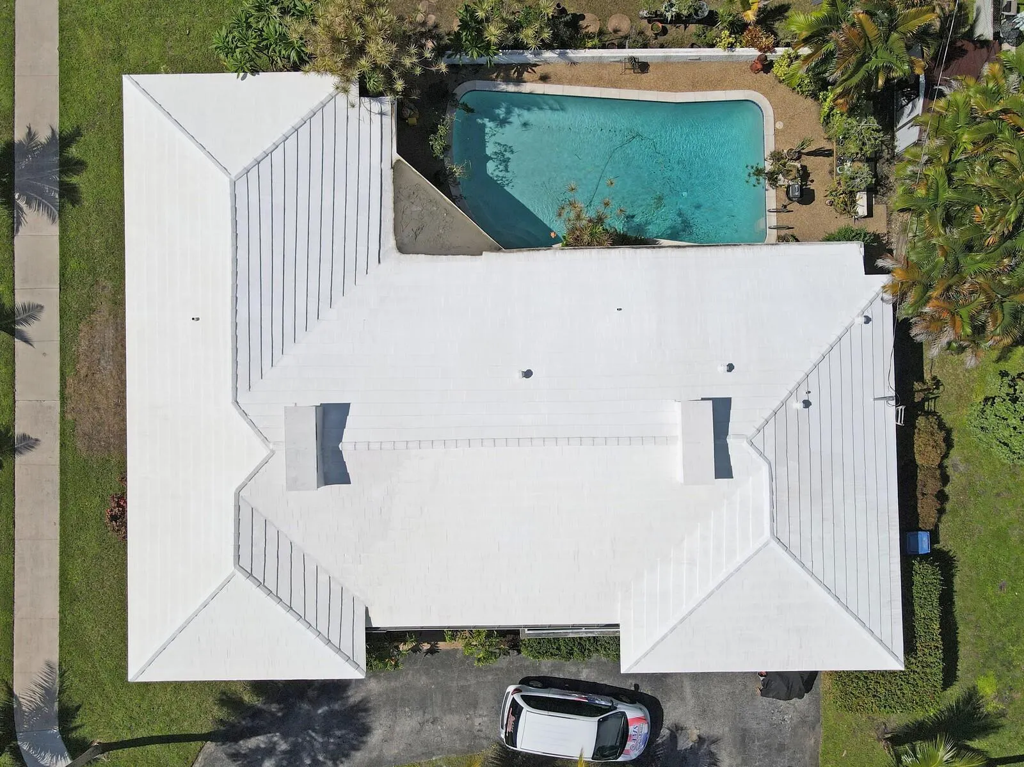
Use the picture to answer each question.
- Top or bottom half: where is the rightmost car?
bottom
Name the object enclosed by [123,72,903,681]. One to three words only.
house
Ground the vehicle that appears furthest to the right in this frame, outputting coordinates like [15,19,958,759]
[501,678,649,767]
